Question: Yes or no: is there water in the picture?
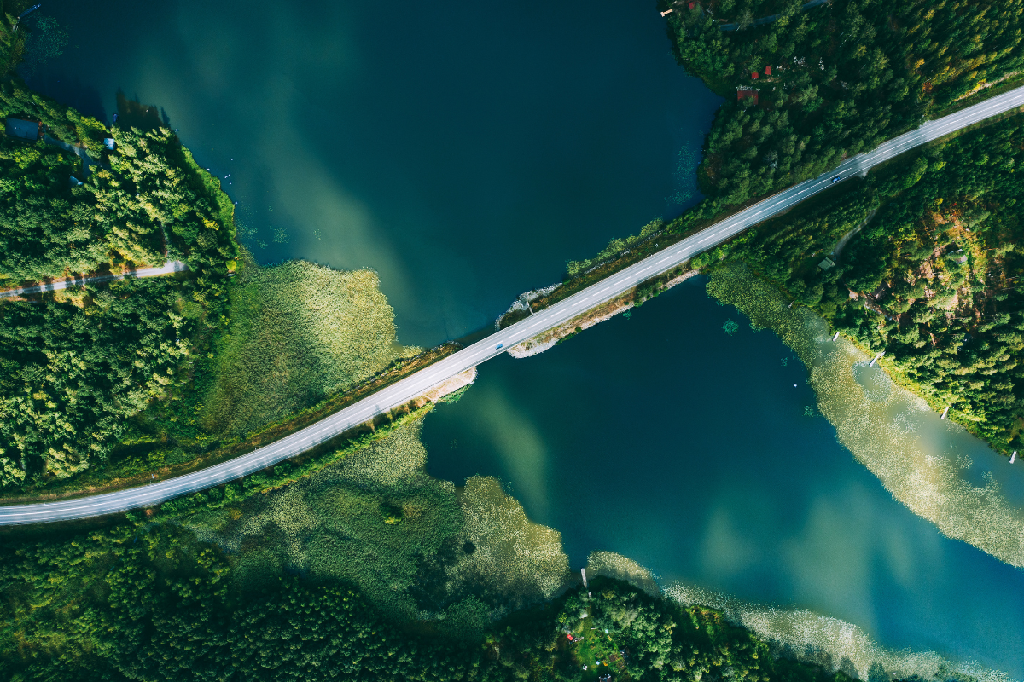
Yes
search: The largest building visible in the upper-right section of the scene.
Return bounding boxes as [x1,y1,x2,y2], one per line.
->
[736,90,759,106]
